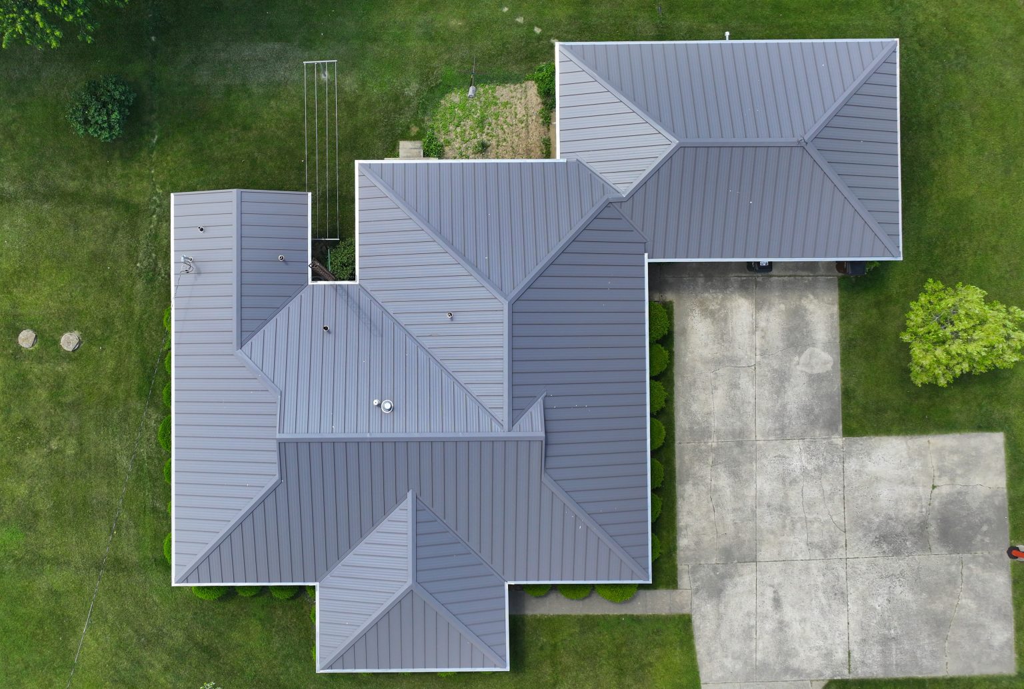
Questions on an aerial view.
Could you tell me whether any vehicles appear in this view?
No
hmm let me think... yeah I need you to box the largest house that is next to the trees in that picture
[170,30,901,672]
